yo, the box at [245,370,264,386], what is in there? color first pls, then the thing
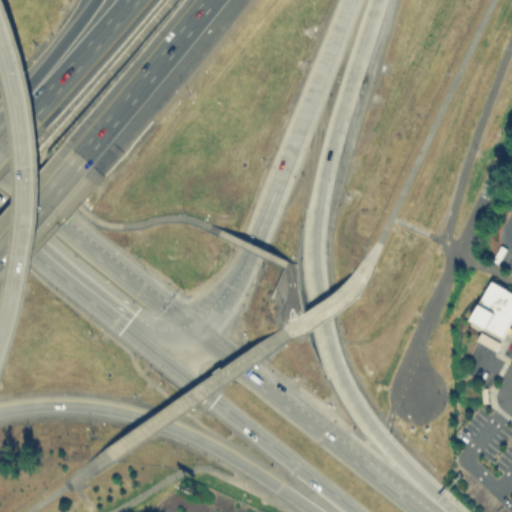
white vehicle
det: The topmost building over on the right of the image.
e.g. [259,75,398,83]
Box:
[468,280,512,342]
